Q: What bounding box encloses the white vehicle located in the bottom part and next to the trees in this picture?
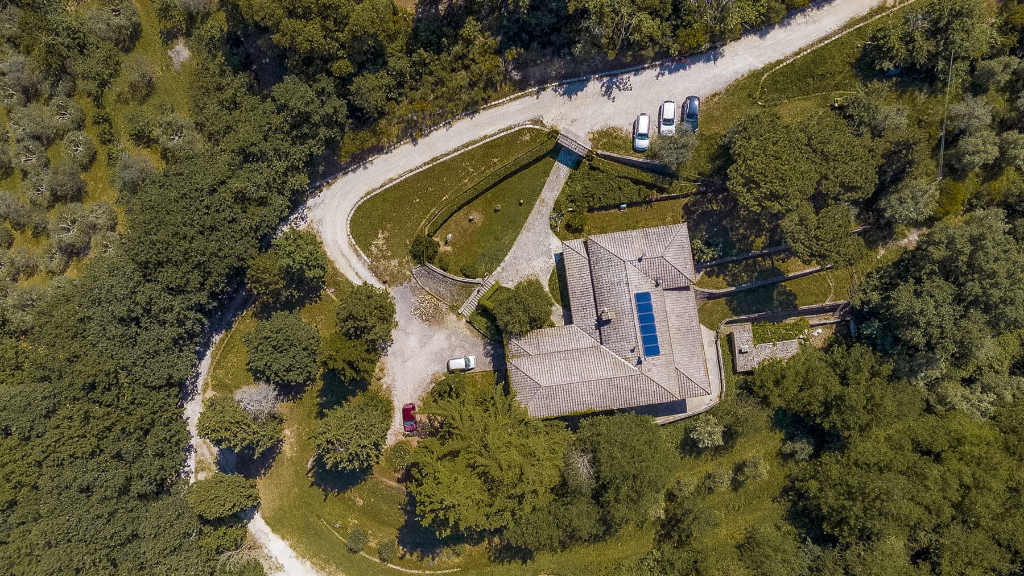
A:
[447,355,476,371]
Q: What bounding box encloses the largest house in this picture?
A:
[504,221,712,422]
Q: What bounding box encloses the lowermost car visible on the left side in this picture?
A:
[402,402,417,432]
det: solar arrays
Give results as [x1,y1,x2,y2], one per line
[632,291,660,361]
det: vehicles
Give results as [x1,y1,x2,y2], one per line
[680,95,699,134]
[447,355,476,371]
[631,113,649,153]
[402,402,417,432]
[658,100,676,137]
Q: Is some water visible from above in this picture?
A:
No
